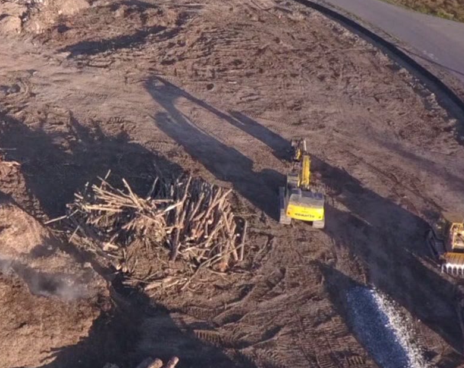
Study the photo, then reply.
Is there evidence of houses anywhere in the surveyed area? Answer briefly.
No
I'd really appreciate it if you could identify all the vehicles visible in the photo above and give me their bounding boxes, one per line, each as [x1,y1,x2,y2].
[434,210,464,280]
[279,123,331,227]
